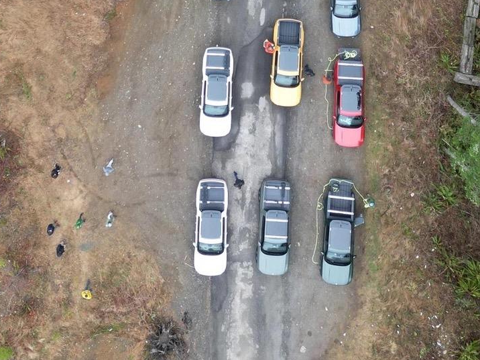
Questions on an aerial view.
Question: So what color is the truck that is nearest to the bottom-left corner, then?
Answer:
white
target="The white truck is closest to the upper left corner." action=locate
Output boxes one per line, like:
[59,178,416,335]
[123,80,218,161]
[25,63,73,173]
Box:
[198,47,235,136]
